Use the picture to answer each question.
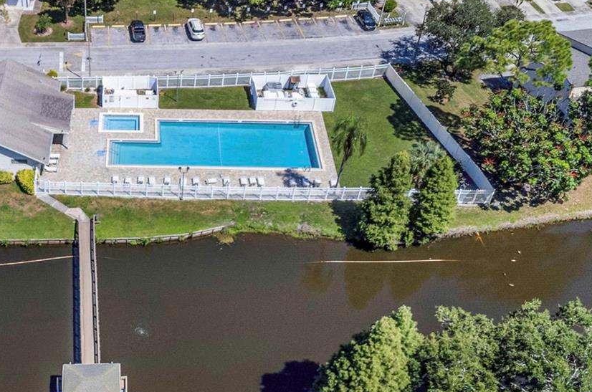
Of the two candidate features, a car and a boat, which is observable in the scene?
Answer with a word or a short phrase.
car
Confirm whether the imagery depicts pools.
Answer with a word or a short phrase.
Yes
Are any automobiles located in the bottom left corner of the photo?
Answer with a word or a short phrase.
No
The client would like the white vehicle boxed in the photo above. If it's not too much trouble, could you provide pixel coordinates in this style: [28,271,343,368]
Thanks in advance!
[188,19,205,38]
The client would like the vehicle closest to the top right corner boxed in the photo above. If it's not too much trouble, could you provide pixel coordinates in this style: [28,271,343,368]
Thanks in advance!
[355,10,378,30]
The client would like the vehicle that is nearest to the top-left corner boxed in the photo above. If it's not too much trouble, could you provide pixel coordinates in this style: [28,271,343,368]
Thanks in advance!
[130,19,145,41]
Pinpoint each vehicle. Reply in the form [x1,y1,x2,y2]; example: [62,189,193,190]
[130,19,145,41]
[355,10,378,30]
[188,19,205,38]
